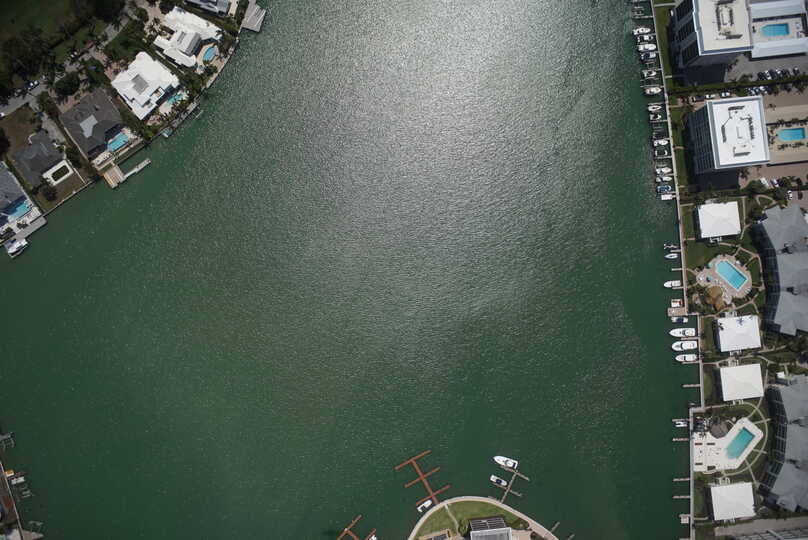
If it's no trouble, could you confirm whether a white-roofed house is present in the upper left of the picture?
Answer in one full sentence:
Yes, in the upper left of the picture there is a white-roofed house.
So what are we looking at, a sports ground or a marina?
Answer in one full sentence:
The area seen from above is a marina.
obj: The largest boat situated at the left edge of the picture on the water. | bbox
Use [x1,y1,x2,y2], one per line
[3,242,27,257]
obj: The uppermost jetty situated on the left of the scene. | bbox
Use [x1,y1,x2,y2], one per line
[241,0,267,33]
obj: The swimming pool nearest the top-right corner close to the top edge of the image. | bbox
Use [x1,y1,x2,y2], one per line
[761,22,791,37]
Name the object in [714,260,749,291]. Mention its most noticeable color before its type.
blue swimming pool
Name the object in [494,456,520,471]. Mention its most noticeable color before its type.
white boat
